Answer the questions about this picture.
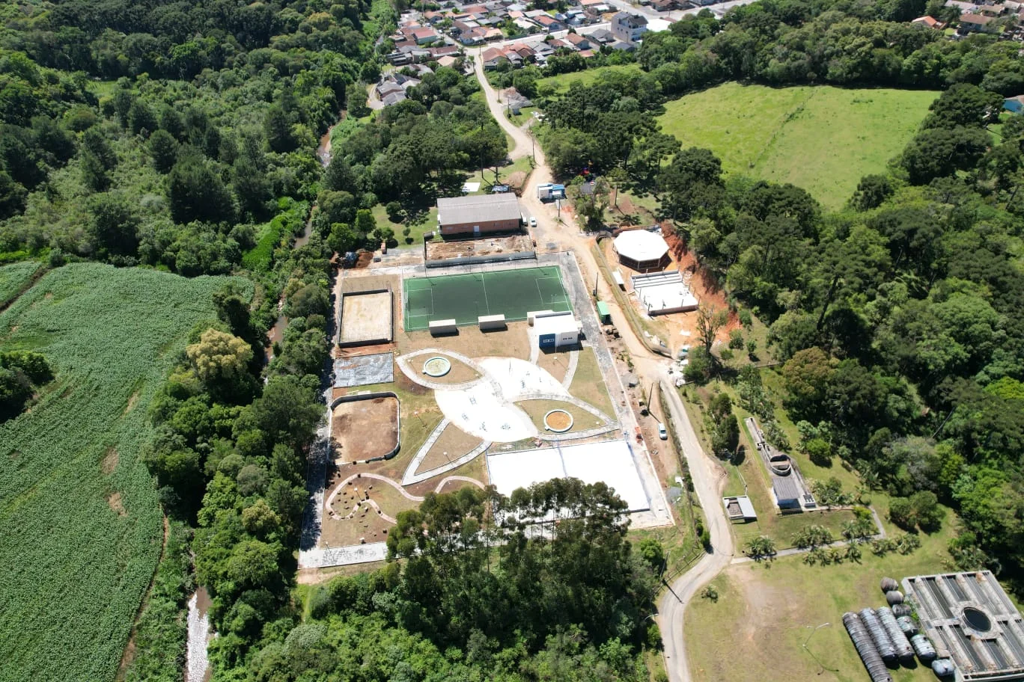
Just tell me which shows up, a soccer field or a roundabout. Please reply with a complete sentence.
Of the two, only a soccer field appears.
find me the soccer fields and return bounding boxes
[403,265,574,332]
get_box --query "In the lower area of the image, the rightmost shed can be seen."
[765,475,803,507]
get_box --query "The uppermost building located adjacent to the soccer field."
[437,192,522,235]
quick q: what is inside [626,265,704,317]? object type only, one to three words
building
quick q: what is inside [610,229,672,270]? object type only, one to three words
building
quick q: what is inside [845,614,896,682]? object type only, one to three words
storage tank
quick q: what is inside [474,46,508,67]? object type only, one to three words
house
